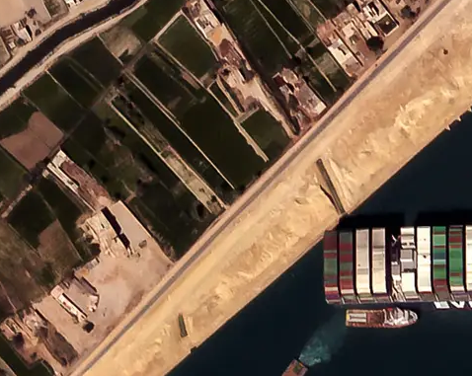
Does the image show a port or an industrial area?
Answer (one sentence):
It's a port.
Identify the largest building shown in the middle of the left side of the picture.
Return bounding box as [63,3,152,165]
[83,209,110,241]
